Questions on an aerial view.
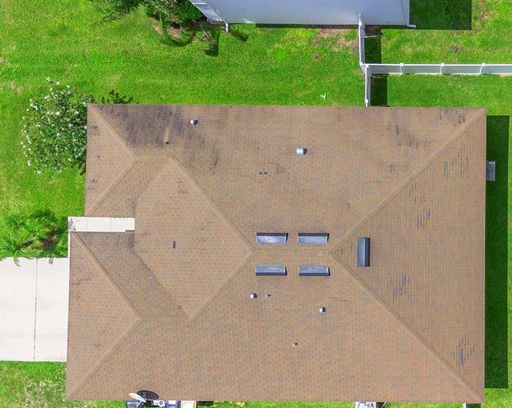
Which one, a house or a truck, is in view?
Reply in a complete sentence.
Of the two, only a house appears.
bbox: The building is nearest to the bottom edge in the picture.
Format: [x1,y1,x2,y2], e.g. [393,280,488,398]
[67,103,494,403]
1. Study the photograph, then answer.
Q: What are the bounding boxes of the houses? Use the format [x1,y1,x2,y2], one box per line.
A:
[188,0,416,33]
[67,103,494,403]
